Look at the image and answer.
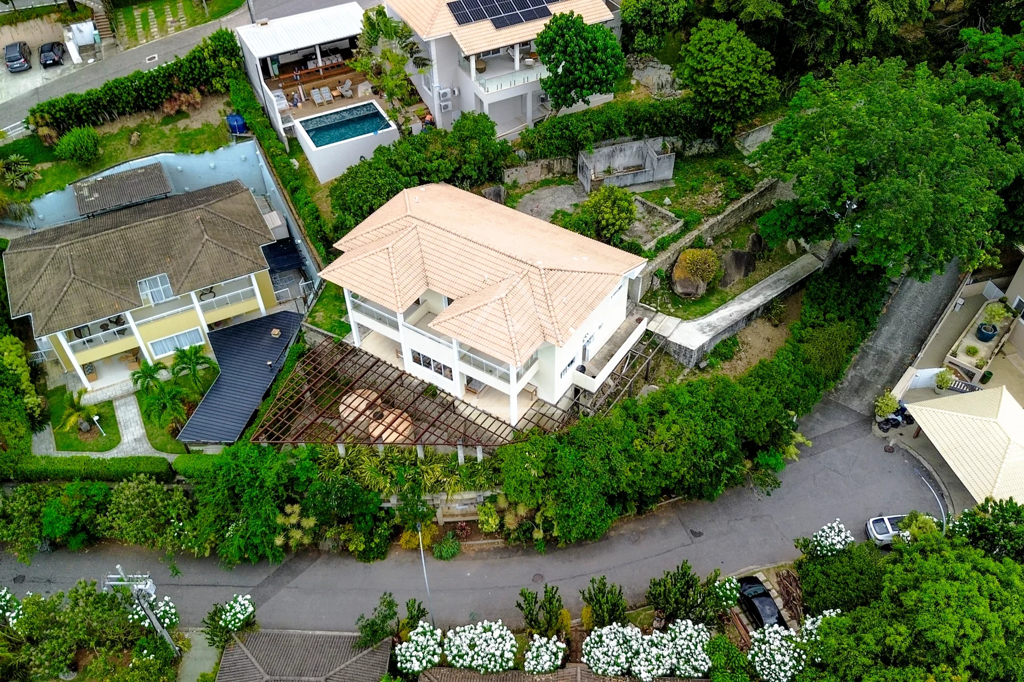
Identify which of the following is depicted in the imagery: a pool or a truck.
pool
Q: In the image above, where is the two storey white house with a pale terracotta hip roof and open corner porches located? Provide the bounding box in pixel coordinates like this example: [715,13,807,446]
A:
[317,182,646,441]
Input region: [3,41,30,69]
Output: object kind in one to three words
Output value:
car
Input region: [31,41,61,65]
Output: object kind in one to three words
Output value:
car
